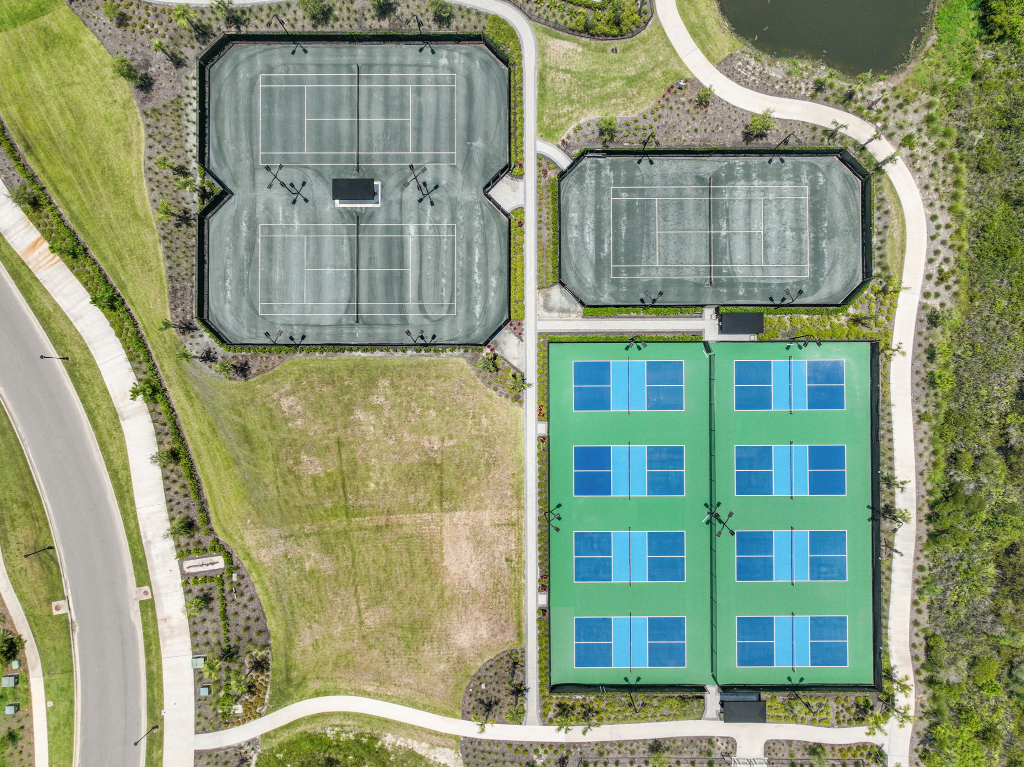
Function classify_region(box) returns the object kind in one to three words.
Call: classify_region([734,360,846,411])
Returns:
sports court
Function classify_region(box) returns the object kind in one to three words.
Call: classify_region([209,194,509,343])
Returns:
tennis court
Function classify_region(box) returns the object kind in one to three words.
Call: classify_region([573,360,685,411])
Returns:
sports court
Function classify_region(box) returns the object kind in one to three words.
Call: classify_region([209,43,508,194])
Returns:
tennis court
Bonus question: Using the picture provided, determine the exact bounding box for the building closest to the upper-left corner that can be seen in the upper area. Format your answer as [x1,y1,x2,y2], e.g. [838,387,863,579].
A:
[332,178,380,207]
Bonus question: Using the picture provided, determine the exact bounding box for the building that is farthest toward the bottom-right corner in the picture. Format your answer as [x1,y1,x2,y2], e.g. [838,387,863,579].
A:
[719,693,767,724]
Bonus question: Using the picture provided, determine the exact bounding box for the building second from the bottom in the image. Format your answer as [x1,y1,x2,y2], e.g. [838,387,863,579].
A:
[717,312,764,335]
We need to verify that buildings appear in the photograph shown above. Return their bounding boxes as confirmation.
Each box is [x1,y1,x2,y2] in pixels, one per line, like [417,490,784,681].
[717,312,764,335]
[719,693,767,724]
[332,178,380,207]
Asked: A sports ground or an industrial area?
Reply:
sports ground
